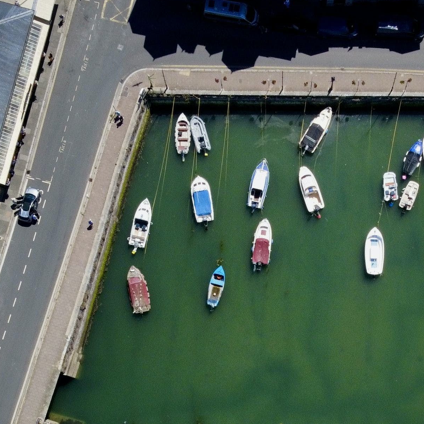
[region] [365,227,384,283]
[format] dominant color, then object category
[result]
white boat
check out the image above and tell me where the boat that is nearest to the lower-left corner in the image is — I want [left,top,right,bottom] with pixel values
[127,266,150,315]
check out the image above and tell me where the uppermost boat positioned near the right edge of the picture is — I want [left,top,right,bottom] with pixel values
[403,139,422,183]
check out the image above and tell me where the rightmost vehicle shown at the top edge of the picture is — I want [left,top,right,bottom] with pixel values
[375,16,423,47]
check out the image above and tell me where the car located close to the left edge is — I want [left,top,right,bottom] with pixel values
[10,186,43,223]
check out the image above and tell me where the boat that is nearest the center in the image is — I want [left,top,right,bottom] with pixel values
[191,175,214,229]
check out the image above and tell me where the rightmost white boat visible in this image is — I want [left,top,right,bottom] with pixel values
[399,180,419,217]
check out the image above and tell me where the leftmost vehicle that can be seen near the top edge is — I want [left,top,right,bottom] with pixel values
[203,0,258,30]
